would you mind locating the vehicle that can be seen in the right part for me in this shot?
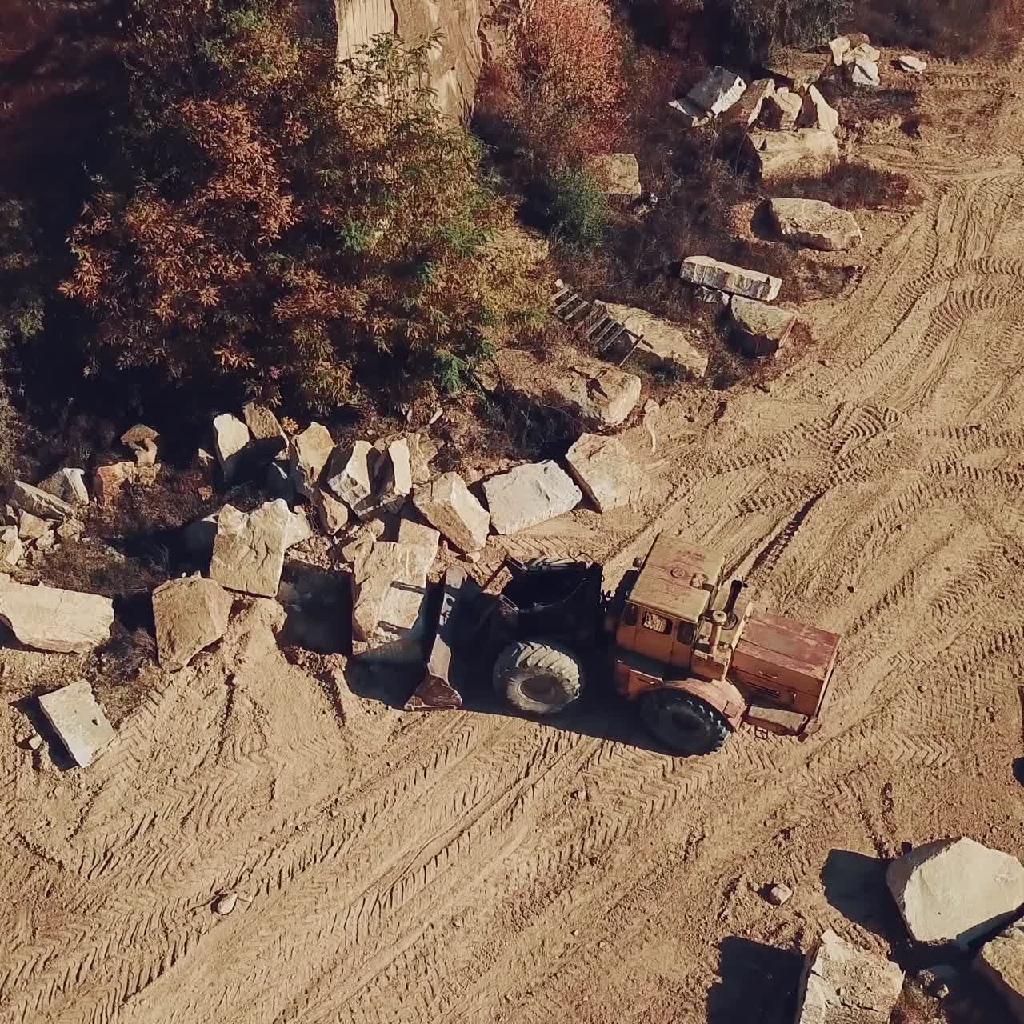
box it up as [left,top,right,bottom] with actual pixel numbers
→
[399,535,841,759]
